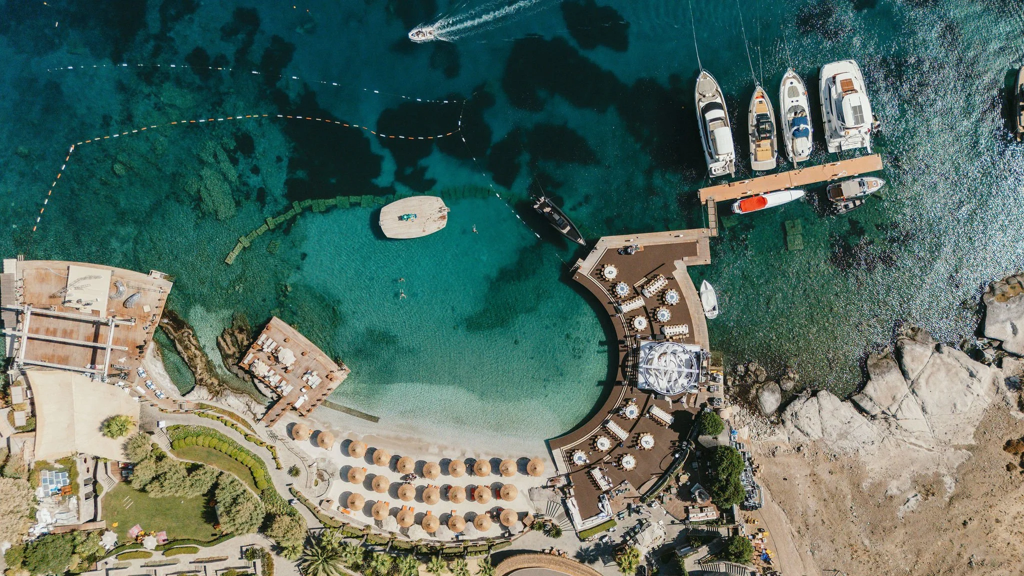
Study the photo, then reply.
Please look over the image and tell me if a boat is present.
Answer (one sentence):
Yes, the image includes a boat.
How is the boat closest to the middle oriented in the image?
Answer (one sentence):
The boat closest to the middle is oriented diagonally.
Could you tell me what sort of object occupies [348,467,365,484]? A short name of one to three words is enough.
umbrella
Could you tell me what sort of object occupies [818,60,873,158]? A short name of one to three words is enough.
boat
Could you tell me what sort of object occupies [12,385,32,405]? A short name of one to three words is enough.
building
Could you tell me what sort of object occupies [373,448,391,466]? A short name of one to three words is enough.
umbrella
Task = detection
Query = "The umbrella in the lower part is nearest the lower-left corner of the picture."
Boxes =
[102,532,119,548]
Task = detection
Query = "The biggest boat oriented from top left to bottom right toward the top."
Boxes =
[530,197,585,245]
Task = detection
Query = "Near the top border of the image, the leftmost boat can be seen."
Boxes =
[408,27,435,41]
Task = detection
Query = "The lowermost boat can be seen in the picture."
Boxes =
[700,280,717,320]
